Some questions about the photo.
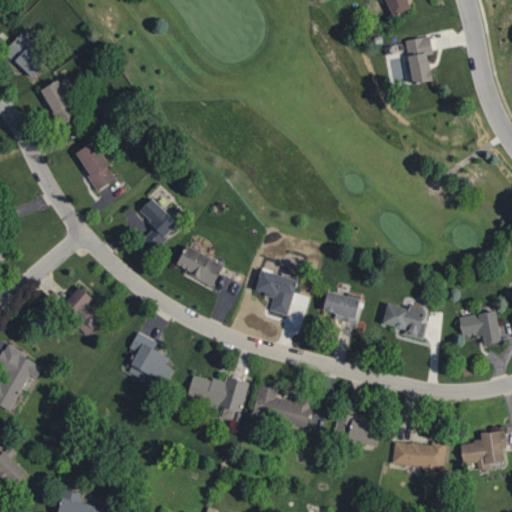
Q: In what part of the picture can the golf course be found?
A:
top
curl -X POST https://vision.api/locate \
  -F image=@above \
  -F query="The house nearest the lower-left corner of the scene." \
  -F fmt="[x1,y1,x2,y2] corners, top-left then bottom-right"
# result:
[0,445,30,484]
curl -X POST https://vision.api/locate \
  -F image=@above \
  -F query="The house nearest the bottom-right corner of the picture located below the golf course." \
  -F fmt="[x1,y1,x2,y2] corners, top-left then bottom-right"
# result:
[460,432,508,471]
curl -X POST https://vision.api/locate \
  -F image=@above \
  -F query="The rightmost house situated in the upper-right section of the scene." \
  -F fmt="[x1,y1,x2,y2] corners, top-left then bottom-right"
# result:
[406,36,434,84]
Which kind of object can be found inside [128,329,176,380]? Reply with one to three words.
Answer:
house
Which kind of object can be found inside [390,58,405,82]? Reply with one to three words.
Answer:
swimming pool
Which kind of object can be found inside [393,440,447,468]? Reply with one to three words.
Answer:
house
